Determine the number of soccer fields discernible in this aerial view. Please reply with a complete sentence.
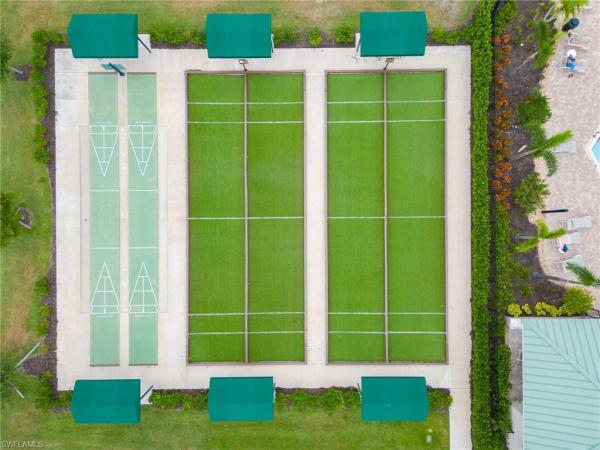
I count no soccer fields.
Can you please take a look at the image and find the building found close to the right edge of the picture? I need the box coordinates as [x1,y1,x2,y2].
[512,313,600,450]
